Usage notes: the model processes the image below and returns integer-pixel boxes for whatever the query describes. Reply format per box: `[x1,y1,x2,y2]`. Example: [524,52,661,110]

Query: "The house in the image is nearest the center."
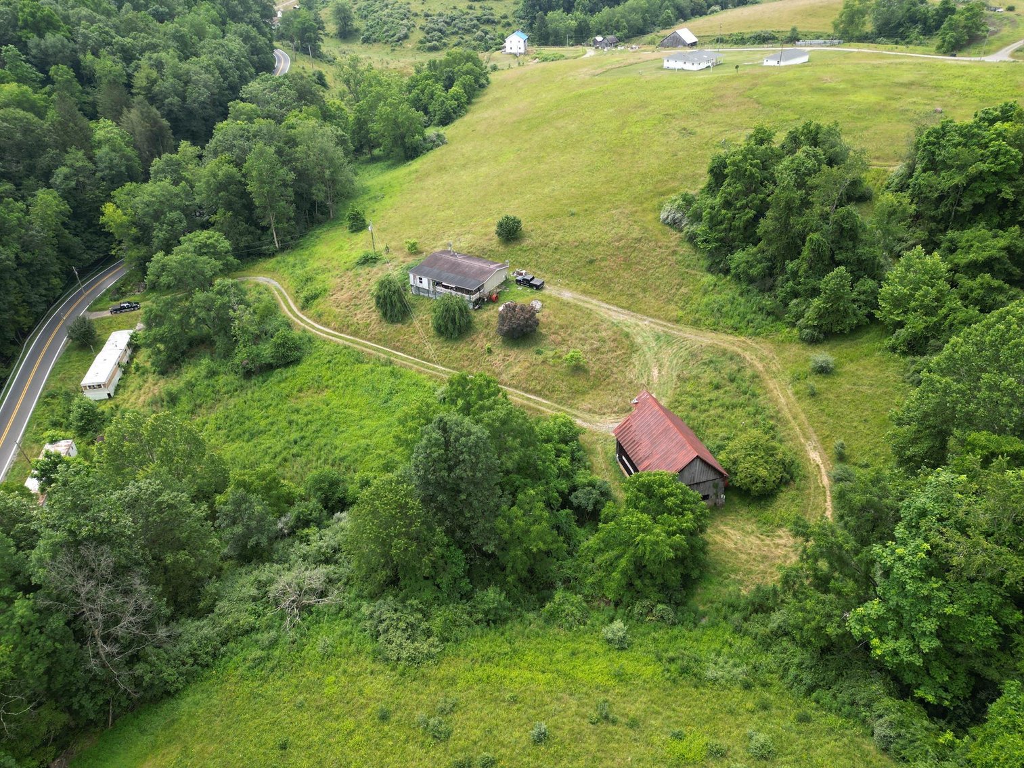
[408,245,502,311]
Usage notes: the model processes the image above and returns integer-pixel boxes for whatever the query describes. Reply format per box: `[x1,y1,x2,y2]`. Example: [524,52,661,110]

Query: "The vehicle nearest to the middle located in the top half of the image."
[514,274,547,289]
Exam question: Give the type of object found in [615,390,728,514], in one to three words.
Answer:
barn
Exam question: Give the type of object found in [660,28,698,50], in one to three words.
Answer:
barn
